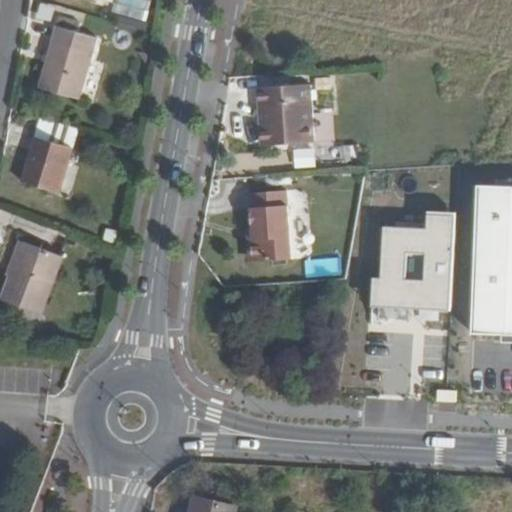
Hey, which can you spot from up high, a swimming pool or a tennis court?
swimming pool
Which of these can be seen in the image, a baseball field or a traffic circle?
traffic circle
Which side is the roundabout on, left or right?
left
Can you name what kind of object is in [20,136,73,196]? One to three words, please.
house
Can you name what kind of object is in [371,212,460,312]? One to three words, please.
building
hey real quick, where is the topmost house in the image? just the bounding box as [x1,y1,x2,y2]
[38,26,96,99]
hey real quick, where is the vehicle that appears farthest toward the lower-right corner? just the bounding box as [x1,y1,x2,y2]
[426,436,459,448]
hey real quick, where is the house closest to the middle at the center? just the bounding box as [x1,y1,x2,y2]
[248,190,292,262]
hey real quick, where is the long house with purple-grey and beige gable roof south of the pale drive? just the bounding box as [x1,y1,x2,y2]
[0,240,64,310]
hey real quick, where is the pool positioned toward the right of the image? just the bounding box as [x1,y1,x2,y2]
[304,252,343,278]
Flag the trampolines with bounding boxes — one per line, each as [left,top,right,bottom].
[400,177,417,193]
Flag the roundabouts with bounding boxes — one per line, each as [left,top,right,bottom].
[74,339,209,486]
